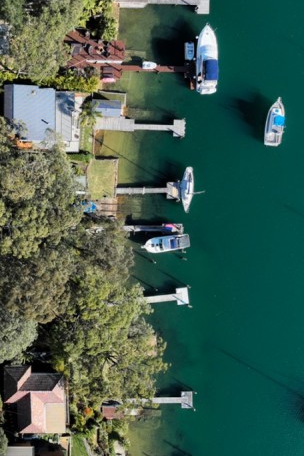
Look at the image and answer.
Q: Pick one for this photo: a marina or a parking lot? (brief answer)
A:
marina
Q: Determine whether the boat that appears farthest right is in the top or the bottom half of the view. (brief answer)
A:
top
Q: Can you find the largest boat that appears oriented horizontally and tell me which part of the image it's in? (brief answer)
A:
center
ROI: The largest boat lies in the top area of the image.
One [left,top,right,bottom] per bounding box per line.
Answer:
[192,23,224,94]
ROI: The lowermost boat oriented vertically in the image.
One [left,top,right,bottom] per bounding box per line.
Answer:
[181,166,204,213]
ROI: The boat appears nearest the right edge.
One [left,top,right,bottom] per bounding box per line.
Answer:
[264,94,287,145]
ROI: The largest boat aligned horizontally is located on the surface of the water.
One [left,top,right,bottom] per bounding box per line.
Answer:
[139,233,192,253]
